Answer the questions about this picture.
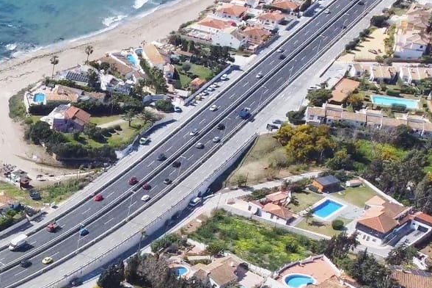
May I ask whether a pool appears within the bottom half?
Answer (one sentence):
Yes, a pool appears within the bottom half.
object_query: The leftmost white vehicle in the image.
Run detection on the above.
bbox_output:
[9,232,28,248]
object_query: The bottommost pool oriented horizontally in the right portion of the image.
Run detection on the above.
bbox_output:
[282,272,315,288]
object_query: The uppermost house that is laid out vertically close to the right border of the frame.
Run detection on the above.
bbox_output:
[394,1,432,71]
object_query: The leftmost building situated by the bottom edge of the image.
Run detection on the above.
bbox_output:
[189,263,238,288]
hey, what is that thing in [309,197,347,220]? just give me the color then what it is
blue swimming pool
